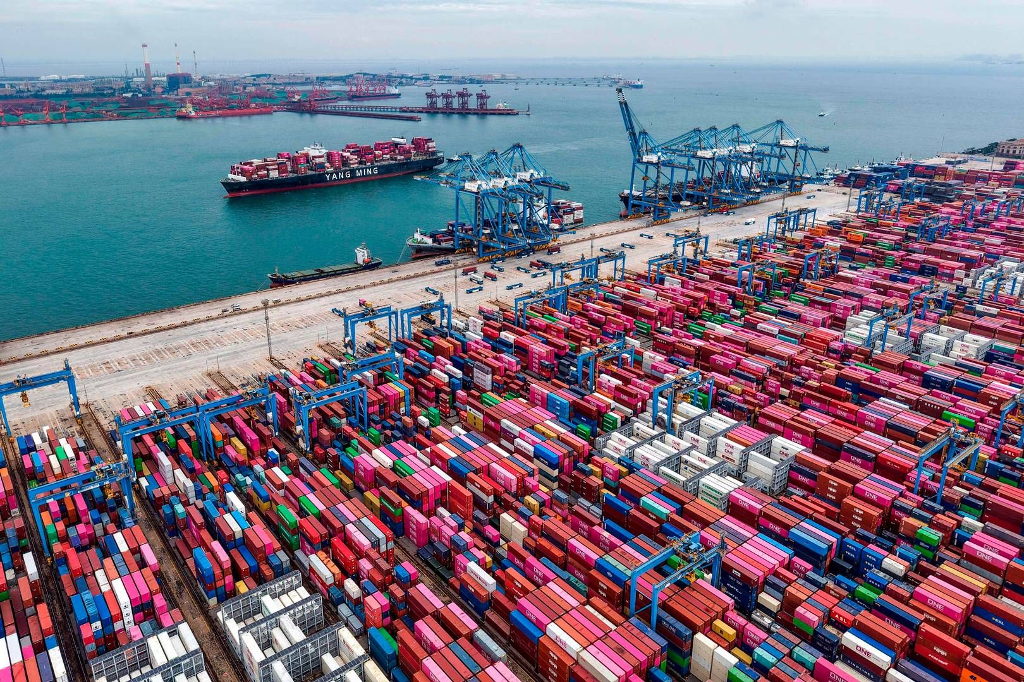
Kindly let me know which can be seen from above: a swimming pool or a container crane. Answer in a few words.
container crane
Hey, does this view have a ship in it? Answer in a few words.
Yes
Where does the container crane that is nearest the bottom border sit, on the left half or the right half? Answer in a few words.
right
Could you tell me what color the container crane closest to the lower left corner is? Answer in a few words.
blue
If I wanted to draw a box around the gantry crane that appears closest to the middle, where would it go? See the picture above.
[513,285,564,330]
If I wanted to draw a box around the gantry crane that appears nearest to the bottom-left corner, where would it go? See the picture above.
[20,452,144,575]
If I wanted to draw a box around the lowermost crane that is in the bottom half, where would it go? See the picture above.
[635,514,738,666]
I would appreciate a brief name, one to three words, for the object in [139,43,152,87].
chimney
